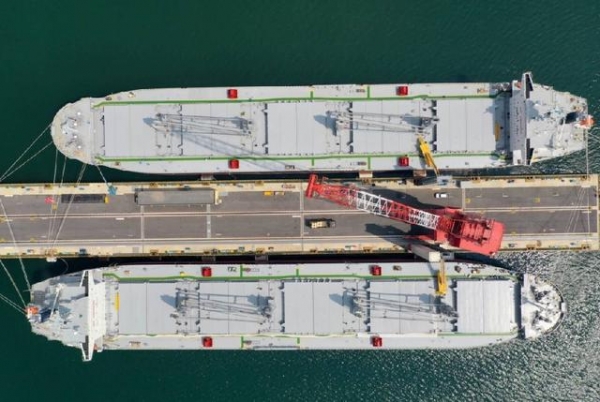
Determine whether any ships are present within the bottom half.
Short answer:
Yes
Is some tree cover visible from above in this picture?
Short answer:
No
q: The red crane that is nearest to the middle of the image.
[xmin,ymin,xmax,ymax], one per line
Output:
[304,172,508,252]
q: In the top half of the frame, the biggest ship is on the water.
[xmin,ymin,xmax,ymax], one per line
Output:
[49,74,593,175]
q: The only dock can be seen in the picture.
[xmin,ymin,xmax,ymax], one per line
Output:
[0,173,599,260]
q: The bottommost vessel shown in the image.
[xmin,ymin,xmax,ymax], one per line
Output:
[23,258,567,359]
